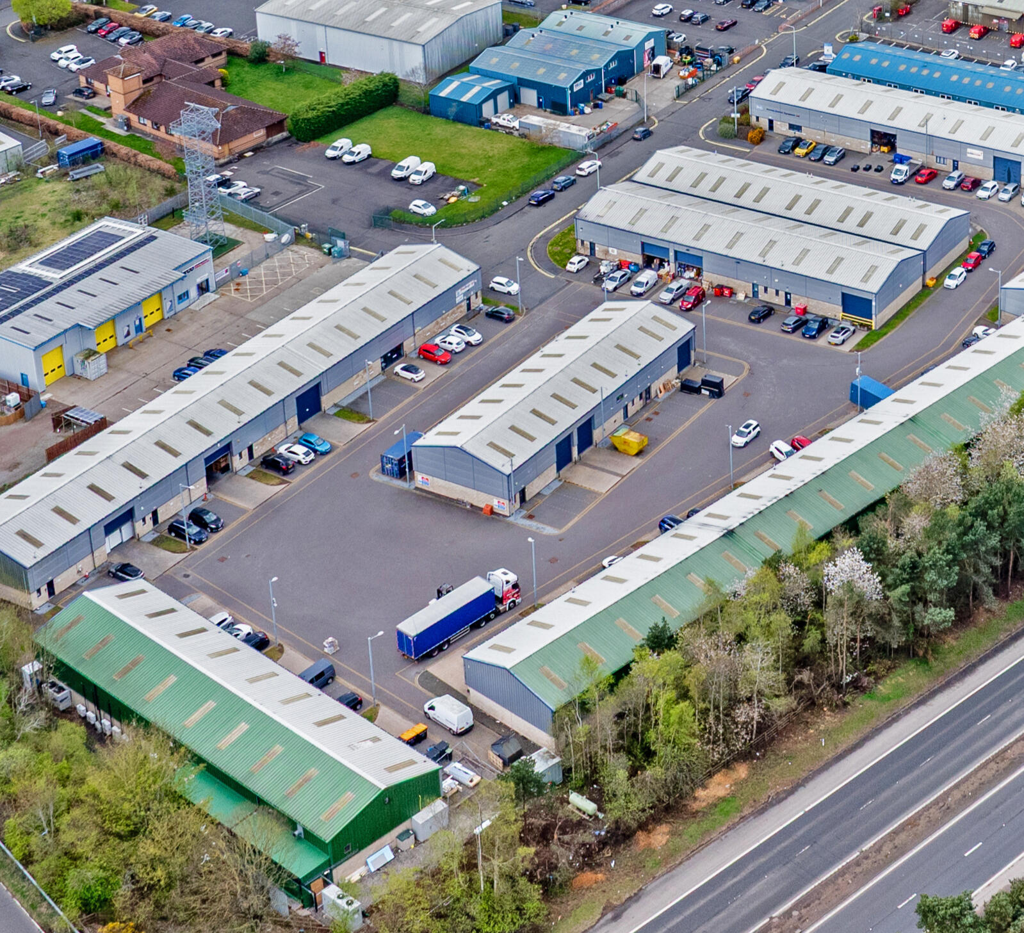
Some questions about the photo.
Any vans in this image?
Yes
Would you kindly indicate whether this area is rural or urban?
urban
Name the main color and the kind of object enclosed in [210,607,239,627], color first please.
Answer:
white car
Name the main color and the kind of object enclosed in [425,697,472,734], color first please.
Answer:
white van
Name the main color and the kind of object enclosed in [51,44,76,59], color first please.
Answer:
white car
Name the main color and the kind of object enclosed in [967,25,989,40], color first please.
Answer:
red vehicle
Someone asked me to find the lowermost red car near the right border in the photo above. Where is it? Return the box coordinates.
[960,251,984,271]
